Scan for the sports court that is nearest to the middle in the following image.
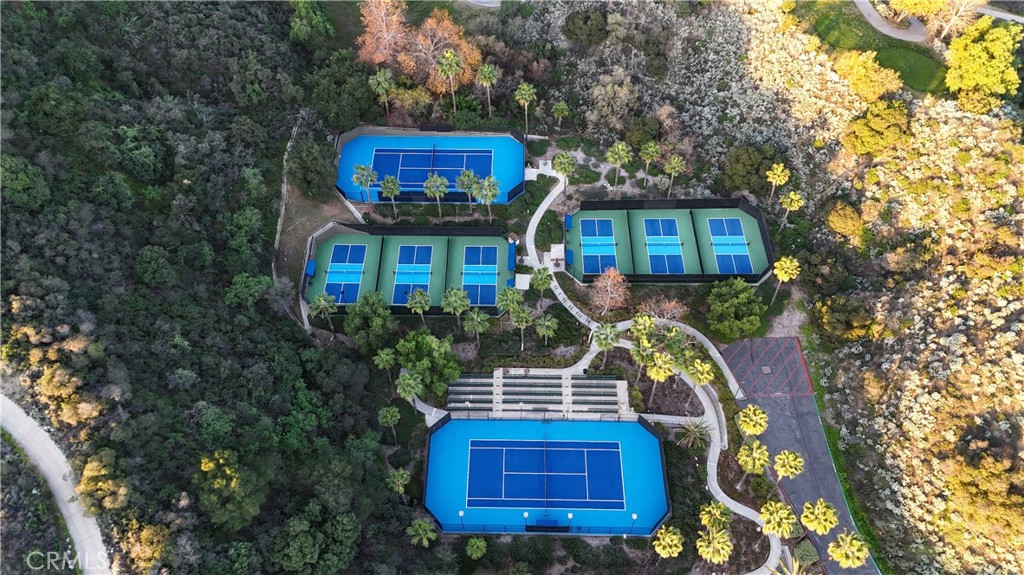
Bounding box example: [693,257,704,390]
[445,236,515,315]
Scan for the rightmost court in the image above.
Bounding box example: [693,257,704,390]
[690,209,769,274]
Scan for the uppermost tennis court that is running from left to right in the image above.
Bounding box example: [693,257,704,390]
[337,135,525,202]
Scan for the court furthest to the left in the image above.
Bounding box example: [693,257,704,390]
[306,235,383,305]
